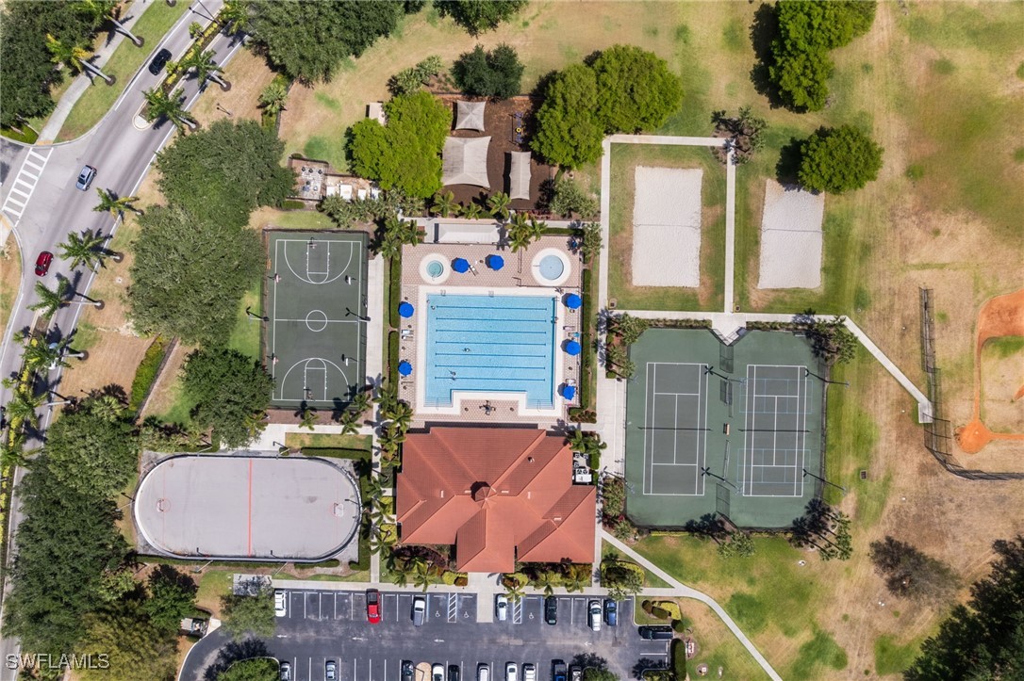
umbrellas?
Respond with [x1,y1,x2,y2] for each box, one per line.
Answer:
[565,340,581,356]
[565,293,581,309]
[399,303,413,317]
[489,254,504,270]
[398,361,412,375]
[454,257,470,273]
[560,385,576,401]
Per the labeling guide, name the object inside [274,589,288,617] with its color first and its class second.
white car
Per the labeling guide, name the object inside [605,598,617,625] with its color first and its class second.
blue vehicle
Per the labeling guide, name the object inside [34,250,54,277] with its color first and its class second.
red car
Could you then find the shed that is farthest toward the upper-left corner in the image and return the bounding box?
[370,103,387,127]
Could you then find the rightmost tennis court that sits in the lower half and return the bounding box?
[723,331,824,528]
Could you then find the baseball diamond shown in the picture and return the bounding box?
[957,287,1024,453]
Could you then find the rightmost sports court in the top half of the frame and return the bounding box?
[758,179,829,289]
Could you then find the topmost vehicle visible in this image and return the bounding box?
[149,48,172,75]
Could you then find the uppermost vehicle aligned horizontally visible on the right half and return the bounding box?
[637,626,671,641]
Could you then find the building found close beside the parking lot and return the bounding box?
[396,427,596,574]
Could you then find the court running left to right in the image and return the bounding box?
[130,453,360,564]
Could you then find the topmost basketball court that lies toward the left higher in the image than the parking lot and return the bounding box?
[267,231,368,409]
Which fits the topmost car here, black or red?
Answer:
black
